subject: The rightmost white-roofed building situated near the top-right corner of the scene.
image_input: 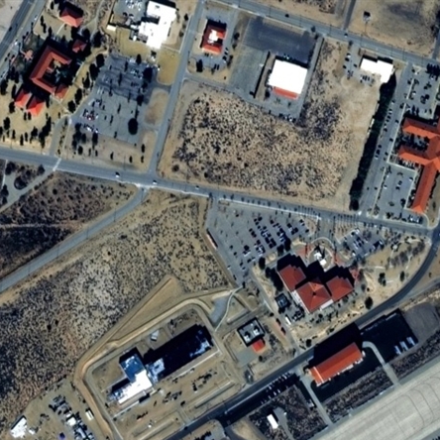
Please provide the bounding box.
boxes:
[360,58,395,83]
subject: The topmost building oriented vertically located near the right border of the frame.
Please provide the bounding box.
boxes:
[399,118,440,214]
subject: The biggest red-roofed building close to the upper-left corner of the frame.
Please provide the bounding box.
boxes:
[25,43,73,95]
